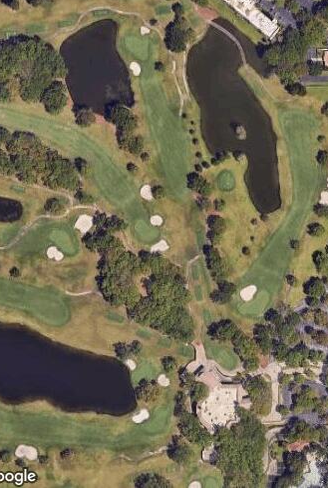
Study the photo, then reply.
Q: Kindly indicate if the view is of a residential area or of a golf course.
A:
golf course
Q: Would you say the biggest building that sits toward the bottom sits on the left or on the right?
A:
right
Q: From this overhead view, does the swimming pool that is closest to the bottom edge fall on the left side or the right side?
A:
right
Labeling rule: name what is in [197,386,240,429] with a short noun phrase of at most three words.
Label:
building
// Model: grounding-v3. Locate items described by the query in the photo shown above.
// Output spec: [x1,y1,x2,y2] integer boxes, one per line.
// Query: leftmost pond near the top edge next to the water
[61,20,134,116]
